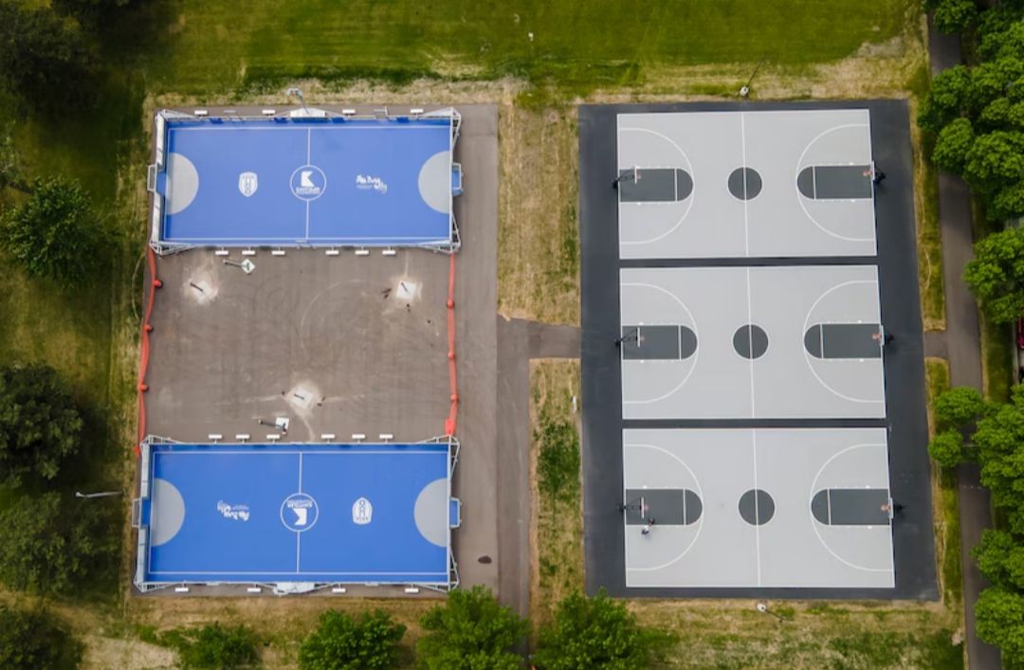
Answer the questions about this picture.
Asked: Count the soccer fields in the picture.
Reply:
2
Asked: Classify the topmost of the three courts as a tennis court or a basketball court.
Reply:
basketball court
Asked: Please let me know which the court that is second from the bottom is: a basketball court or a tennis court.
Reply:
basketball court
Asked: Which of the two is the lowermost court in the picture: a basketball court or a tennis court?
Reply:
basketball court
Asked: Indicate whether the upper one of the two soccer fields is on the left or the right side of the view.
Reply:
left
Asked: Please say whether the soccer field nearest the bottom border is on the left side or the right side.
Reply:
left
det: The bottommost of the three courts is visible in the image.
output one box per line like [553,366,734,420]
[623,428,895,588]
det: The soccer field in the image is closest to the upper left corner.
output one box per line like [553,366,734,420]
[144,87,463,258]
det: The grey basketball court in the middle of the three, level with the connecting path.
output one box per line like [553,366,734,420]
[620,265,886,420]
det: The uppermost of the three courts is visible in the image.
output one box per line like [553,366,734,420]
[617,109,877,259]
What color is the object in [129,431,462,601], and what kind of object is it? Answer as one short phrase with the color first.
blue soccer field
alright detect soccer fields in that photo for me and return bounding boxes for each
[129,431,462,601]
[144,87,463,258]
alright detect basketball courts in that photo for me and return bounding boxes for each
[623,428,895,588]
[620,265,886,420]
[617,109,877,259]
